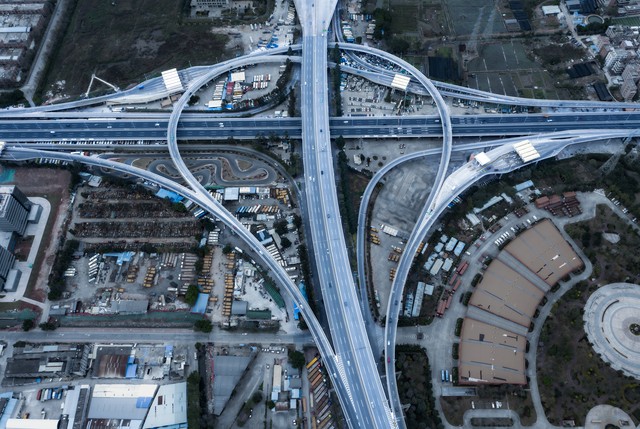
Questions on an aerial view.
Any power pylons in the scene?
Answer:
Yes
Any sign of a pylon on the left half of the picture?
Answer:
No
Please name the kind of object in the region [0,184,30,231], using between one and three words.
building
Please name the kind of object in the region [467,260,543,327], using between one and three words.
building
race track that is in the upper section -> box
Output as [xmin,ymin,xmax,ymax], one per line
[95,151,287,191]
